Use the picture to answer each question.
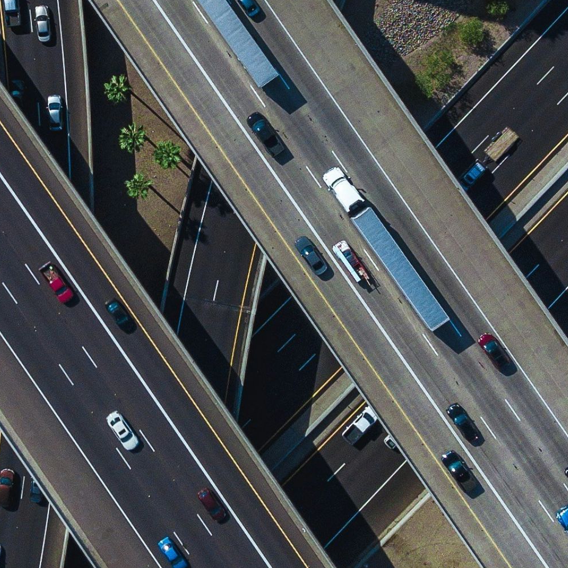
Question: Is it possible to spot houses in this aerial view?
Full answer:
No, there appears to be no house in this shot.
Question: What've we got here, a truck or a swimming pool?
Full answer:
It is a truck that can be seen here.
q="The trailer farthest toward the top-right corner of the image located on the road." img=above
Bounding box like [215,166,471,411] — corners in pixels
[481,126,519,164]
